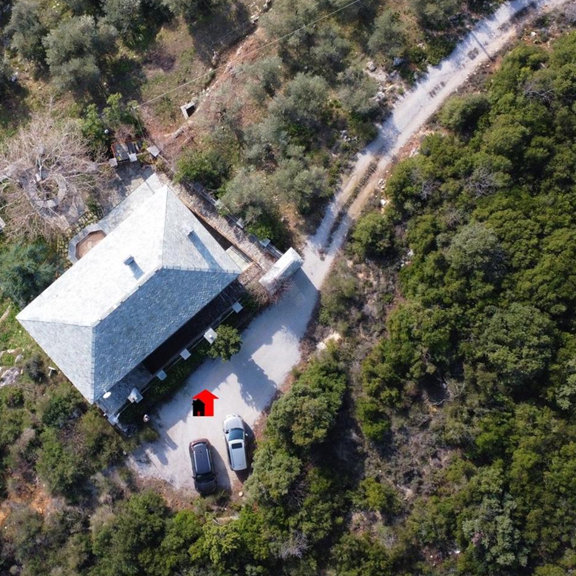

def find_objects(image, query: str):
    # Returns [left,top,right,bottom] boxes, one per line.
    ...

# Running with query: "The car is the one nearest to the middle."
[223,412,251,474]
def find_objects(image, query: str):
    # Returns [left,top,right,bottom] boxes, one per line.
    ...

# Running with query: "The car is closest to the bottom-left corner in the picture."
[190,439,218,494]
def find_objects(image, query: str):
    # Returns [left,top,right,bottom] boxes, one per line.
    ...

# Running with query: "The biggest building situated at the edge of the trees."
[15,184,242,404]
